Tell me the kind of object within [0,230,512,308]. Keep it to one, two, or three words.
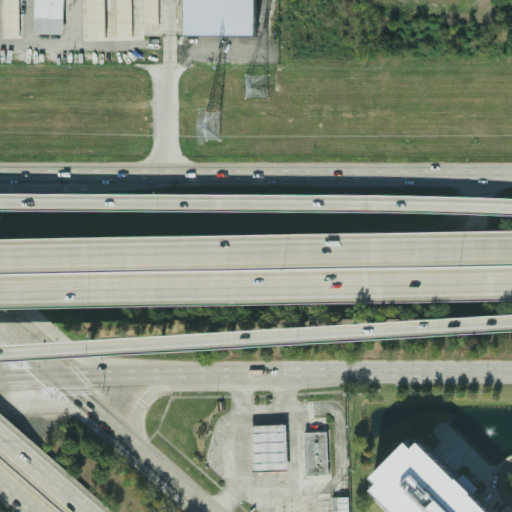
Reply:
overpass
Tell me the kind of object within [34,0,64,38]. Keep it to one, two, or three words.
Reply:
building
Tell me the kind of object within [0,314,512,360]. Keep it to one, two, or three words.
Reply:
overpass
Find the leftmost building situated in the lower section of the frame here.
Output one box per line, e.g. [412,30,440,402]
[305,426,330,476]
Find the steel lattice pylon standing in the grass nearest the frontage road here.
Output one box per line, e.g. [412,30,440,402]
[200,106,222,144]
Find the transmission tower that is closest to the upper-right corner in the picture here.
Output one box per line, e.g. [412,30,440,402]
[244,69,270,102]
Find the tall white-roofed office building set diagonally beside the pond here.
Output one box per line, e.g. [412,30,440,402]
[367,442,488,512]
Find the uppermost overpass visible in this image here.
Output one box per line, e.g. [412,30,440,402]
[0,194,512,216]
